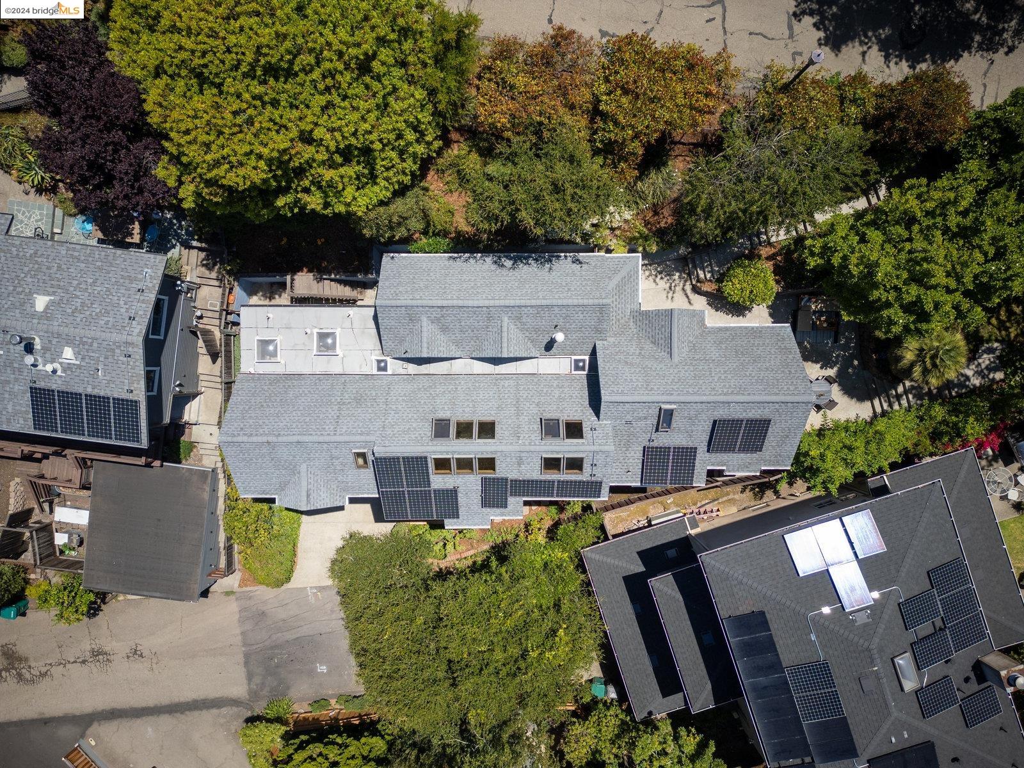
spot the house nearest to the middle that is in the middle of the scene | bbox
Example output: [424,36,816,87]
[219,252,813,529]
